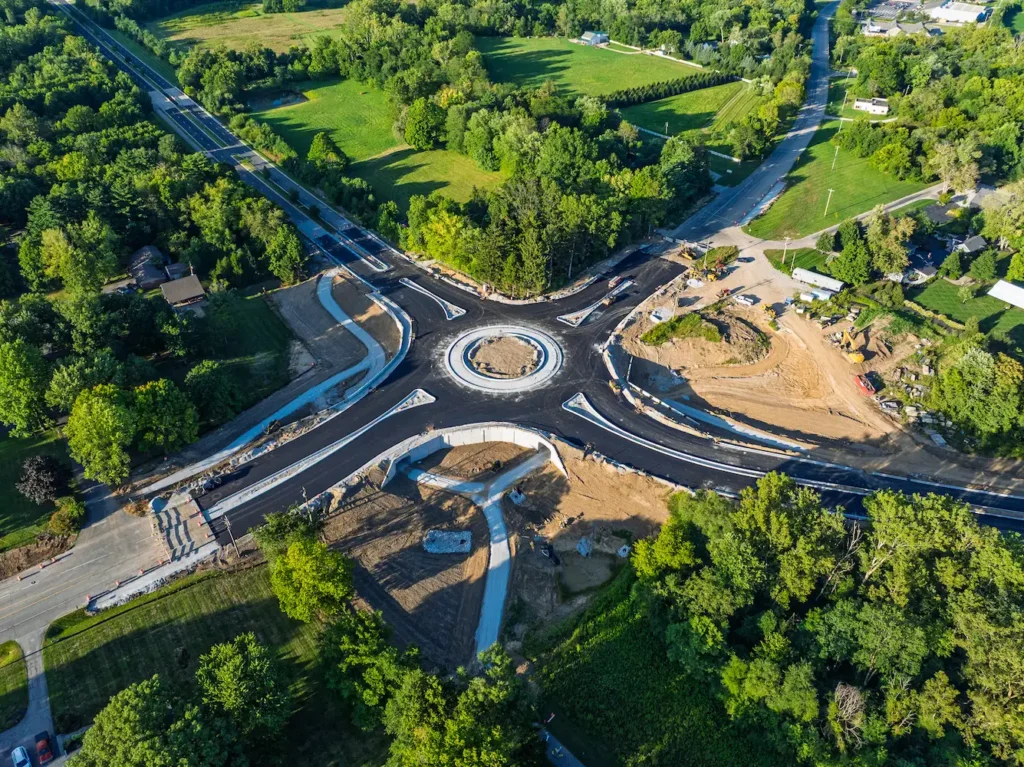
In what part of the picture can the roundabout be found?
center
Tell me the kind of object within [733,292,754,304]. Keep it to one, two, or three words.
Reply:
vehicle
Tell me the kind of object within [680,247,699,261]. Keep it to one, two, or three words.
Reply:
work vehicle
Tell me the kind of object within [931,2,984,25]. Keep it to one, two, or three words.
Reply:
building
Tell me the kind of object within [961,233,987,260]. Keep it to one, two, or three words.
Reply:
house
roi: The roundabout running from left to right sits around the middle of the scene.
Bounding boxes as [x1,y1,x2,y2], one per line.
[195,231,1024,543]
